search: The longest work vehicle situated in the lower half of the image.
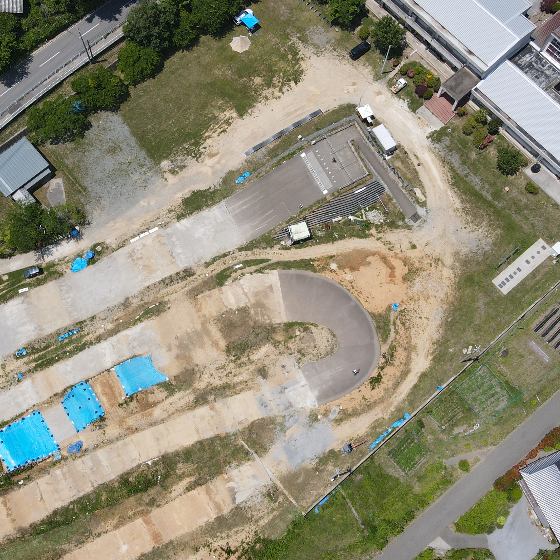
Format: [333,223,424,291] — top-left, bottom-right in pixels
[339,439,370,457]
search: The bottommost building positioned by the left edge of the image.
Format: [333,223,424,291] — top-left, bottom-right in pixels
[0,137,50,212]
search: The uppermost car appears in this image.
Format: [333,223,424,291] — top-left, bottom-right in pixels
[231,6,255,28]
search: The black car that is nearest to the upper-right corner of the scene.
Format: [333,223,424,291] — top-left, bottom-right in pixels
[348,39,372,59]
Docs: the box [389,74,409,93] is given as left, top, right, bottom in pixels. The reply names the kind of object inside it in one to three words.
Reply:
vehicle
